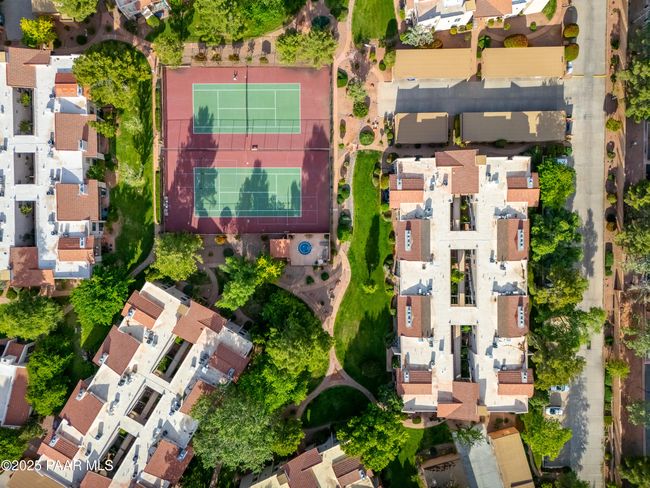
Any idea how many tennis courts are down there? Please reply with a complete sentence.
In total, there are 2 tennis courts in the scene.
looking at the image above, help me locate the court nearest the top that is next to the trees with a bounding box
[164,65,331,150]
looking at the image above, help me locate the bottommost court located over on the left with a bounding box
[164,150,331,234]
